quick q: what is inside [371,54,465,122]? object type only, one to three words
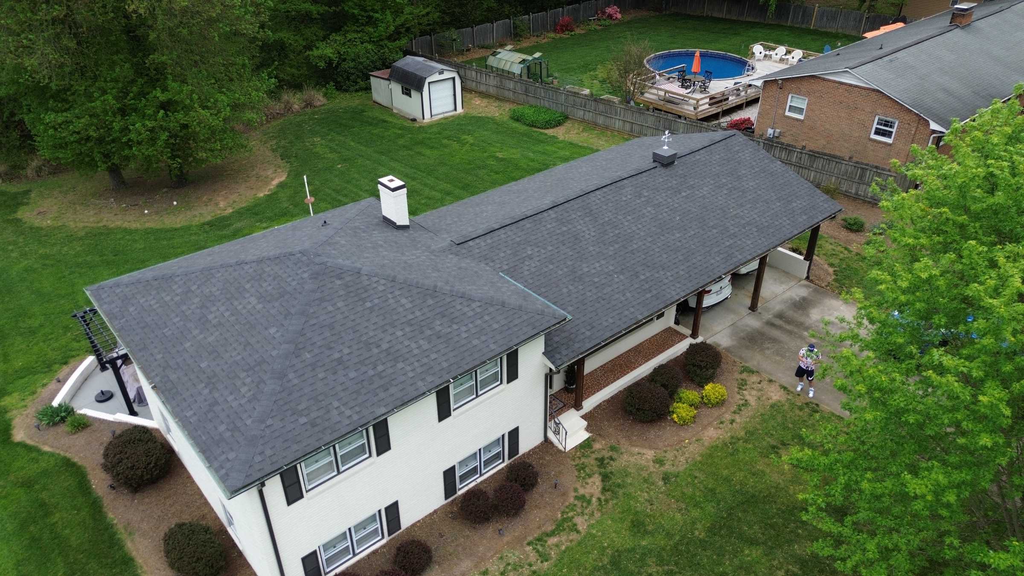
shed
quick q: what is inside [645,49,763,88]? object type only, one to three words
swimming pool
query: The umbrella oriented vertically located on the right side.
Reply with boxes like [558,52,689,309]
[689,48,701,76]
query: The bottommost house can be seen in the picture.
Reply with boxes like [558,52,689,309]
[82,126,846,576]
